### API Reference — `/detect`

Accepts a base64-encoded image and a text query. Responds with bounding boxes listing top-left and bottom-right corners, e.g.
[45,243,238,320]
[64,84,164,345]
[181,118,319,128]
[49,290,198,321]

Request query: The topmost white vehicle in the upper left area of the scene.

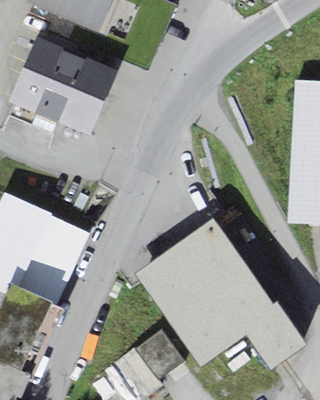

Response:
[22,16,47,30]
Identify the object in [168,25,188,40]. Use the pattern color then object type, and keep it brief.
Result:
gray car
